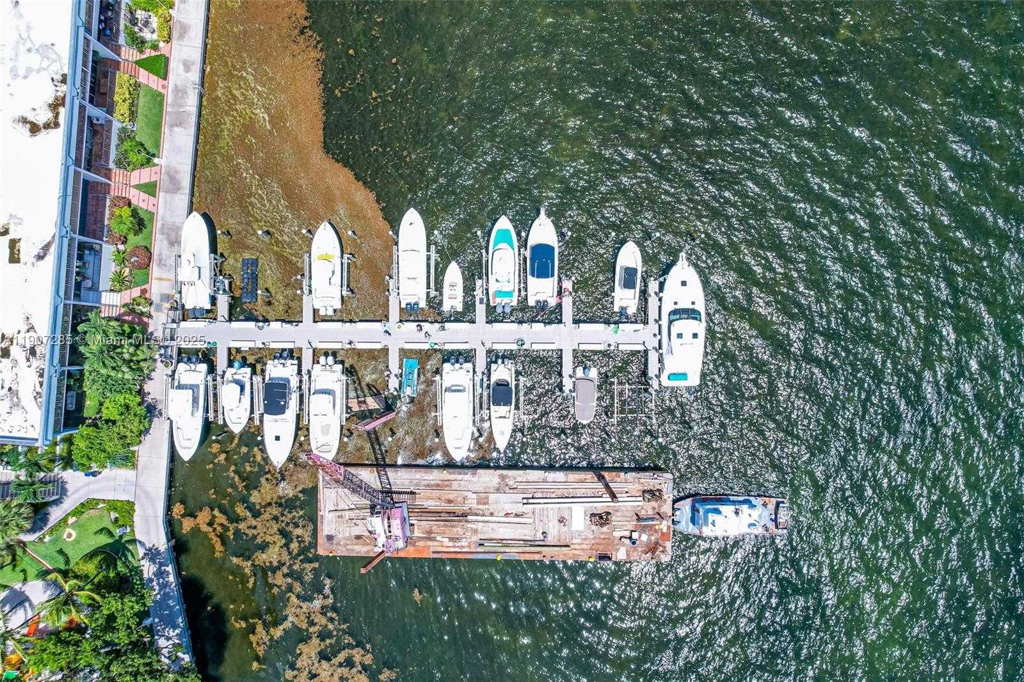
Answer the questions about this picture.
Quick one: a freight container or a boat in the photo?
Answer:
boat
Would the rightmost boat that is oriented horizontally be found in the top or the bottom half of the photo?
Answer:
bottom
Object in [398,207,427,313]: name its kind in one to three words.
boat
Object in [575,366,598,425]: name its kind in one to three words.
boat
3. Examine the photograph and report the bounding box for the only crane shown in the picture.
[300,448,411,554]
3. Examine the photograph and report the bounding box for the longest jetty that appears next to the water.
[177,280,659,390]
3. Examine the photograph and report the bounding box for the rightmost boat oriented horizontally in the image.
[672,493,789,537]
